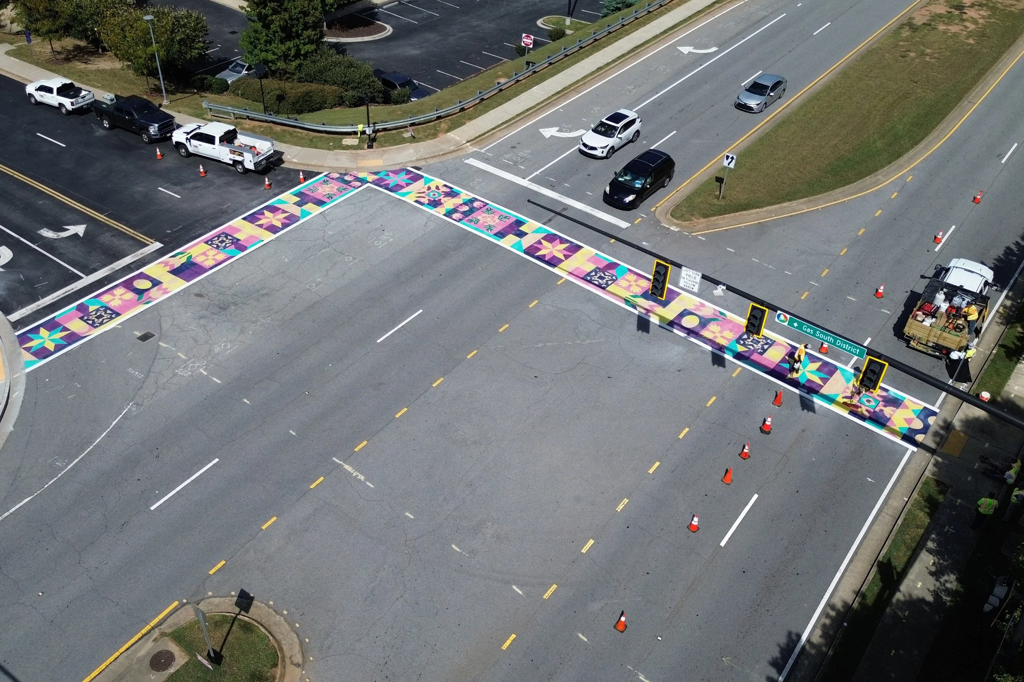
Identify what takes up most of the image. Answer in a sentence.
What you mostly see from above here is paved ground.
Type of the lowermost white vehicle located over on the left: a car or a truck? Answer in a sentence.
From above, the lowermost white vehicle located over on the left can be identified as a truck.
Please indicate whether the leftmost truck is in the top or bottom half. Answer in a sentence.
The leftmost truck is in the top half of the image.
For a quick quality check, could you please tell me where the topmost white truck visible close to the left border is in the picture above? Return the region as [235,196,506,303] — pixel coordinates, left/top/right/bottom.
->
[23,76,97,114]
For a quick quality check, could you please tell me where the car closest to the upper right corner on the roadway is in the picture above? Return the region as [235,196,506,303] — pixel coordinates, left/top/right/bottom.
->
[734,73,786,111]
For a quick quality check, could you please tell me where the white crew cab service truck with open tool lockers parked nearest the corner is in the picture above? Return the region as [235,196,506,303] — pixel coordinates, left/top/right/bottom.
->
[169,117,288,173]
